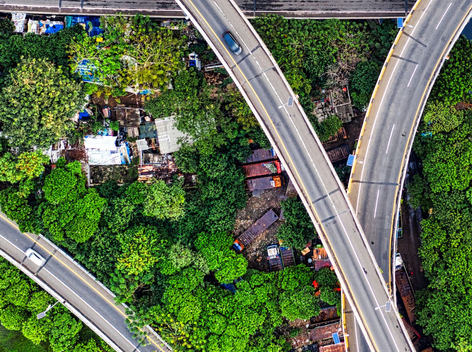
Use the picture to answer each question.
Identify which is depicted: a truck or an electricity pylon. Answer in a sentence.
There is a truck in the scene.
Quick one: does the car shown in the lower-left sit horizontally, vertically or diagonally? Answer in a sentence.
In this picture, the car shown in the lower-left lies diagonally.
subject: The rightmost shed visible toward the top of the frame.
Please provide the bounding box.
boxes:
[334,98,355,121]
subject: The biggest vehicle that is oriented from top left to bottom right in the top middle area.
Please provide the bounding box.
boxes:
[222,30,243,55]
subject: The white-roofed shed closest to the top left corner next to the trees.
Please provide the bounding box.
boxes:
[11,13,32,32]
